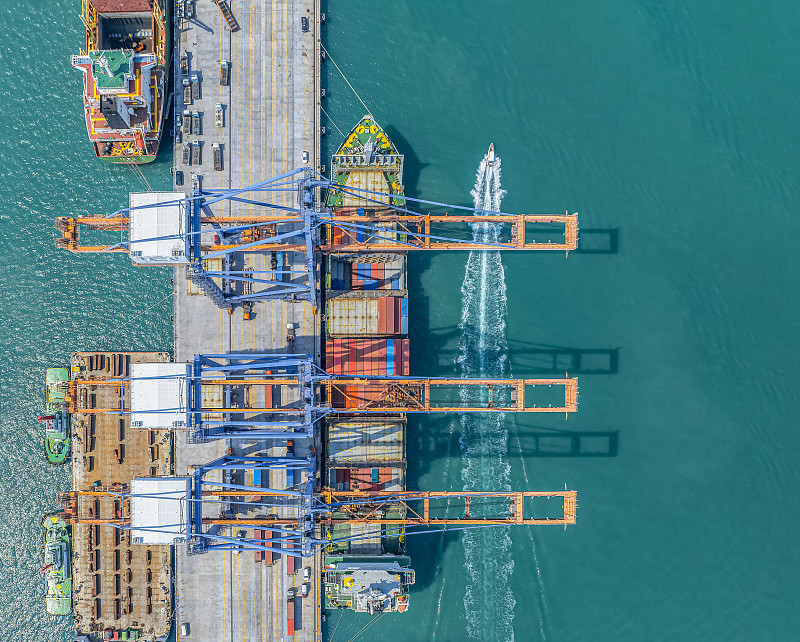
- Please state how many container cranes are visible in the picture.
3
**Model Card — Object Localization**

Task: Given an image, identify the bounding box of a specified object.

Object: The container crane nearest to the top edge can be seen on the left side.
[53,165,584,315]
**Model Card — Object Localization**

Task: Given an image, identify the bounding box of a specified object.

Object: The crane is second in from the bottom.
[53,351,584,447]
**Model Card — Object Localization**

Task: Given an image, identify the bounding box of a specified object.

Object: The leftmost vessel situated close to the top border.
[72,0,173,171]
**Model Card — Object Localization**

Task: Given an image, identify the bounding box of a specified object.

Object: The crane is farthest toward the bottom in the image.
[53,446,584,562]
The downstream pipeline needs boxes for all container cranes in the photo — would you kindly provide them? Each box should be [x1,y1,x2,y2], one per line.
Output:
[53,446,584,562]
[53,351,584,447]
[53,165,584,315]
